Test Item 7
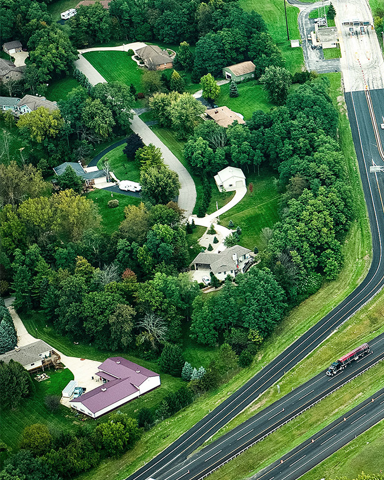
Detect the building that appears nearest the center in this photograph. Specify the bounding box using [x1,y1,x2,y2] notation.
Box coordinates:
[193,249,256,276]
